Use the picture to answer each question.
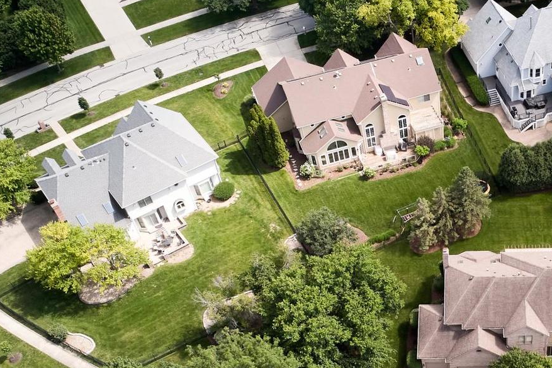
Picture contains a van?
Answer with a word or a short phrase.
No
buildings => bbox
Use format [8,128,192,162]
[252,32,447,169]
[31,100,223,261]
[415,238,552,368]
[458,0,552,134]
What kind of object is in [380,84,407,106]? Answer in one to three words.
solar panel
